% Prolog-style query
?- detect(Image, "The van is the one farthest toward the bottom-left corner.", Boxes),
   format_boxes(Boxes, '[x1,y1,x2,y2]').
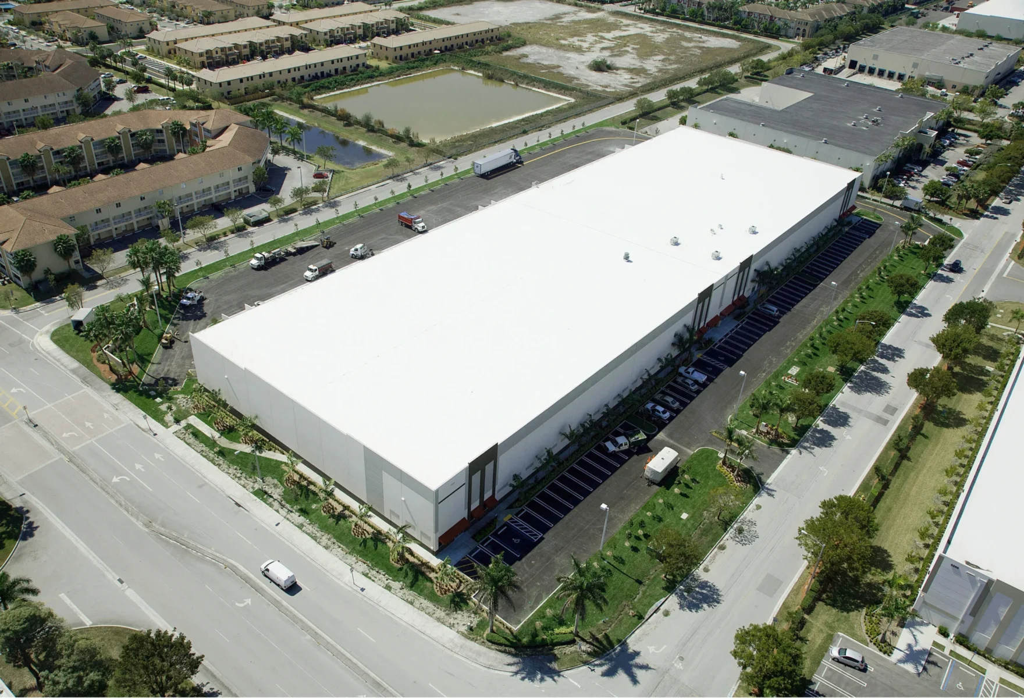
[263,558,302,589]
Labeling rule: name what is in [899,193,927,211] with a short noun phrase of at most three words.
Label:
vehicle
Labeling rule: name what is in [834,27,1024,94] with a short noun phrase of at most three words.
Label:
building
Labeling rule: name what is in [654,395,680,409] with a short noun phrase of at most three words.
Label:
car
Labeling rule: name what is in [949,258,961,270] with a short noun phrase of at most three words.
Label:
vehicle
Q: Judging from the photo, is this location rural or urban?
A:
urban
